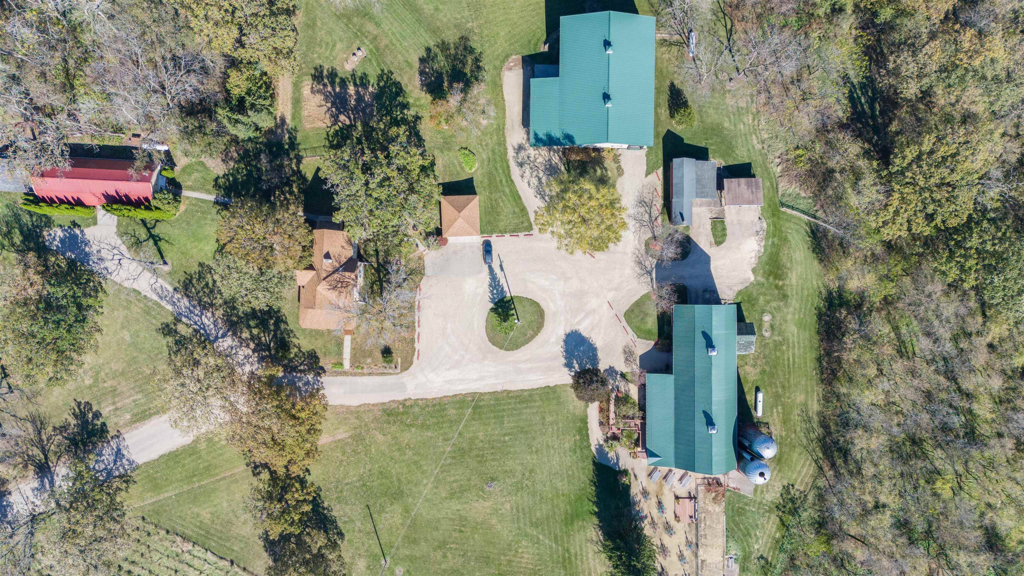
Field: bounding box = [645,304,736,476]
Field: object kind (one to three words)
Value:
barn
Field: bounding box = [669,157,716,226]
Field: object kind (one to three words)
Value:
shed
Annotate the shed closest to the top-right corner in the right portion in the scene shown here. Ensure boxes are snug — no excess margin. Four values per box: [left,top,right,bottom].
[721,178,764,207]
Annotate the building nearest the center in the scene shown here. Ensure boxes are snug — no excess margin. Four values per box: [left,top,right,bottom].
[442,195,480,236]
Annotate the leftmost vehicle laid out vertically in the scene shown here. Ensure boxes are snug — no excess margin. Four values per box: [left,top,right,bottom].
[481,239,494,265]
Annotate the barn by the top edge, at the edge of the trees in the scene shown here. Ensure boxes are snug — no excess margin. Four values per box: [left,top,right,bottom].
[529,8,653,150]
